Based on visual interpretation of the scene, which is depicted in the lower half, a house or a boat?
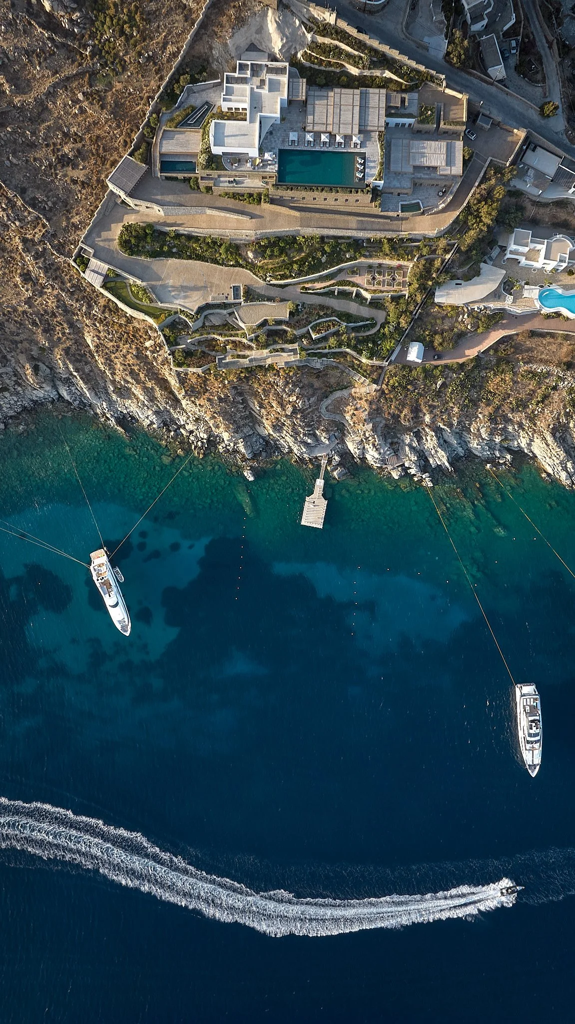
boat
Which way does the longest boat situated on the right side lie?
from top to bottom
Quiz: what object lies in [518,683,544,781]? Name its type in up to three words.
boat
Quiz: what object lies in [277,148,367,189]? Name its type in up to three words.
swimming pool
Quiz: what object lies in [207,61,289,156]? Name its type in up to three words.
house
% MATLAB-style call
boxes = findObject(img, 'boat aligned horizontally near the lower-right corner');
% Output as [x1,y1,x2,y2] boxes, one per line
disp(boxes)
[499,886,526,898]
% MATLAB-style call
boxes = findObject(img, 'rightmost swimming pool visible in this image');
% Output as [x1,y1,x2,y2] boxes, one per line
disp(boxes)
[537,284,575,320]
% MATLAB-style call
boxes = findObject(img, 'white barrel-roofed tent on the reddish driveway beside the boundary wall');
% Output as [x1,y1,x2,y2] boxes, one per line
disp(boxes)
[407,339,425,362]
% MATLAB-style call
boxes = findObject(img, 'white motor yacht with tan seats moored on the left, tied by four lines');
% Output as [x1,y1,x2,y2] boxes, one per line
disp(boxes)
[91,549,128,637]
